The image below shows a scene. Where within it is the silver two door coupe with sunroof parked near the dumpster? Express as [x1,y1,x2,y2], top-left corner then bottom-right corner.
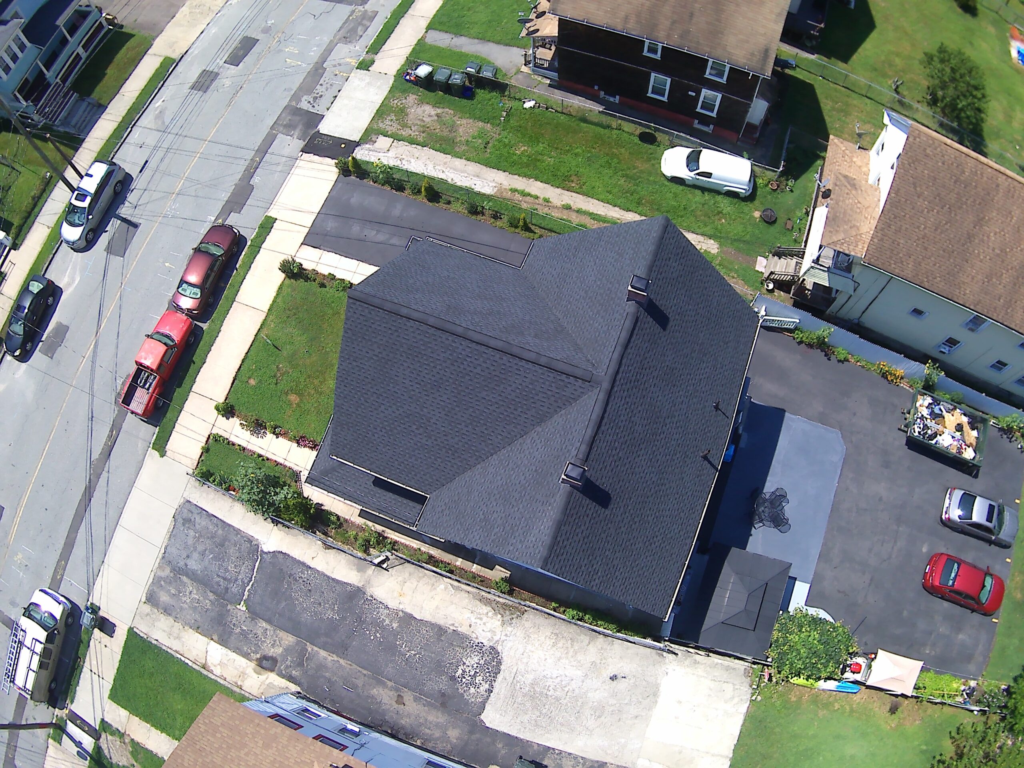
[938,493,1019,546]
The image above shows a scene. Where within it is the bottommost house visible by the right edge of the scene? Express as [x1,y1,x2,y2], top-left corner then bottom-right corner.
[768,120,1024,388]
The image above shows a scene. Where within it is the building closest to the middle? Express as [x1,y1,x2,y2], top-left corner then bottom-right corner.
[303,216,769,621]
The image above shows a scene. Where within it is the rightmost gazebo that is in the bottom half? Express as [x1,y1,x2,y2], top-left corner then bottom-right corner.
[690,547,793,661]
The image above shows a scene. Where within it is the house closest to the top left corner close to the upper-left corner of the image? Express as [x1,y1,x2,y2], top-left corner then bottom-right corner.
[0,0,116,123]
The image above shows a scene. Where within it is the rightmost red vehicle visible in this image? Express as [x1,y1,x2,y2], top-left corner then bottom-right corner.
[920,551,1006,614]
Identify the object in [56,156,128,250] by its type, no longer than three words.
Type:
car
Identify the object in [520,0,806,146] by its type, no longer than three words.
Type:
house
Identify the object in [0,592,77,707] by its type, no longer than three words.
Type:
van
